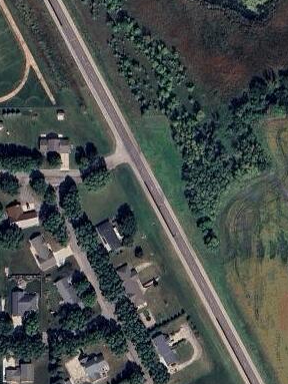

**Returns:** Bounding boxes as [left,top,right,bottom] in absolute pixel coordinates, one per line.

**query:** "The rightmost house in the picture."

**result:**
[151,333,180,365]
